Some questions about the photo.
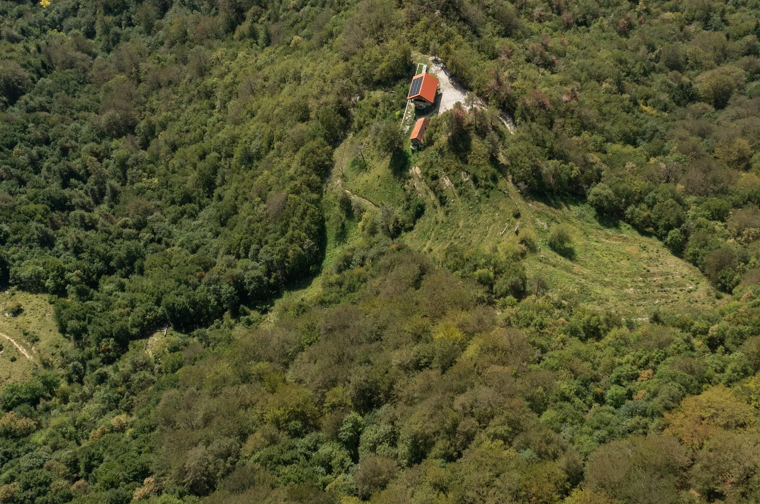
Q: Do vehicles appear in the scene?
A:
No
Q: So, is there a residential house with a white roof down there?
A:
No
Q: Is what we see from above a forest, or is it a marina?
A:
forest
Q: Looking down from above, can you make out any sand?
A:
No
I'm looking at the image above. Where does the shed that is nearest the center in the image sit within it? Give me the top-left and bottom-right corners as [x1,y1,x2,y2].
[410,117,429,147]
